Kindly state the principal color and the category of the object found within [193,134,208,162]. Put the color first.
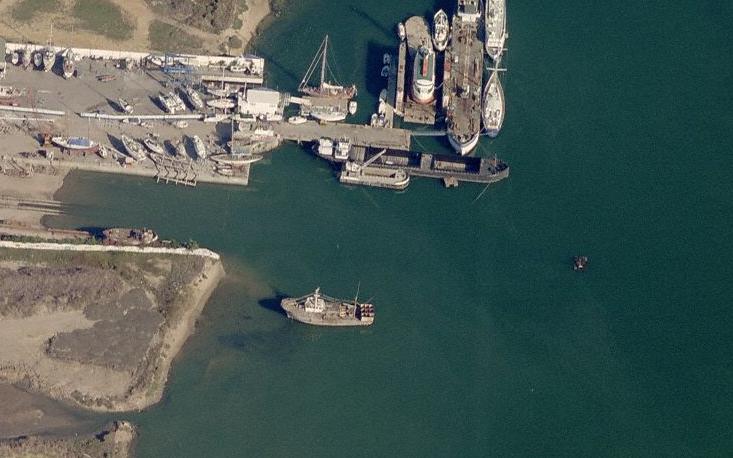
white boat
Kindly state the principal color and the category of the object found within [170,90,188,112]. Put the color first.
white boat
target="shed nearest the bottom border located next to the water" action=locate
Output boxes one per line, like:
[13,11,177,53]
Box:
[238,89,280,118]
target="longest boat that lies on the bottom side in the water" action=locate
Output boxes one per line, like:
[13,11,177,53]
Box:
[283,278,374,324]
